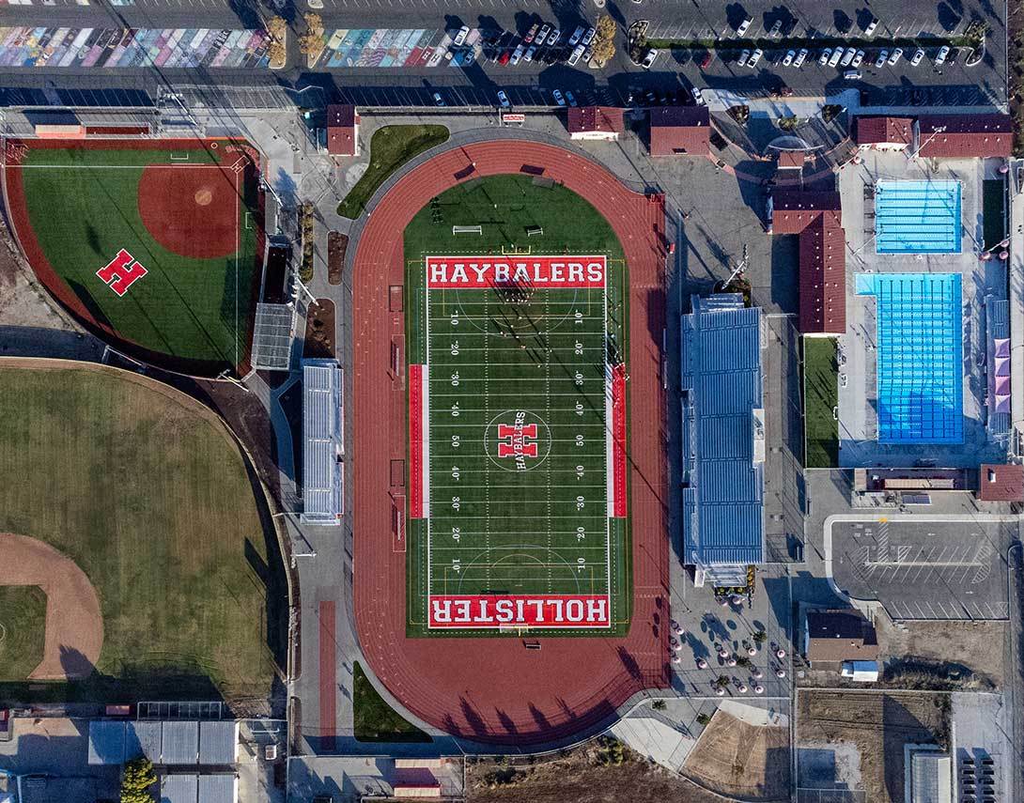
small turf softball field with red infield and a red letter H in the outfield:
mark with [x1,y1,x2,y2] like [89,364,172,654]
[5,138,264,380]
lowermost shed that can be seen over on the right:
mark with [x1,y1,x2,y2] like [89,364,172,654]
[900,741,950,803]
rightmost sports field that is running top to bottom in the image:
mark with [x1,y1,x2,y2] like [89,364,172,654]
[403,174,628,638]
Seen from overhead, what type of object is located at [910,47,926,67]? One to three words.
car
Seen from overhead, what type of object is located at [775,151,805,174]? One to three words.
building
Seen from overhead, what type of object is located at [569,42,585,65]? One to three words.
vehicle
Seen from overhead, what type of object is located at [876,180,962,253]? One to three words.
swimming pool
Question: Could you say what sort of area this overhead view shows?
sports ground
